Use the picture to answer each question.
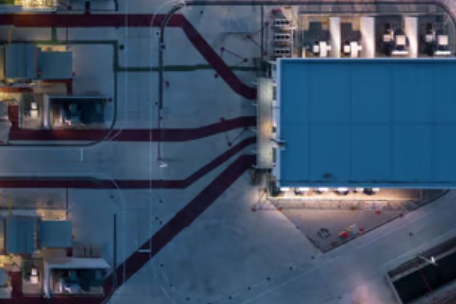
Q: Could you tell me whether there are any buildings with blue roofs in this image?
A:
Yes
